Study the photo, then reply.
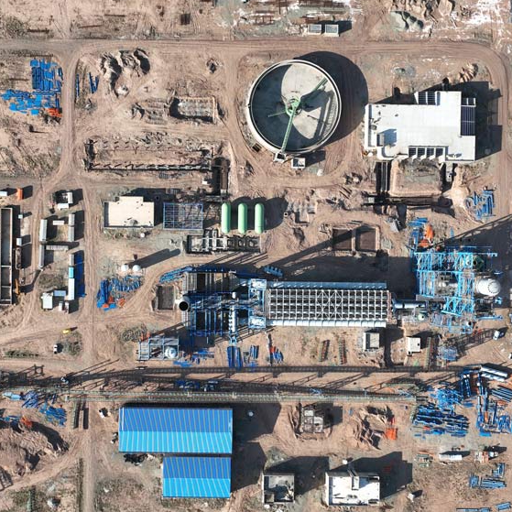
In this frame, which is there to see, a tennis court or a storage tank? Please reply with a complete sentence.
Visible in the photo is a storage tank.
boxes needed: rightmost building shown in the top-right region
[362,91,476,165]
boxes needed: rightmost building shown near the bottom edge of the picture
[324,469,379,506]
